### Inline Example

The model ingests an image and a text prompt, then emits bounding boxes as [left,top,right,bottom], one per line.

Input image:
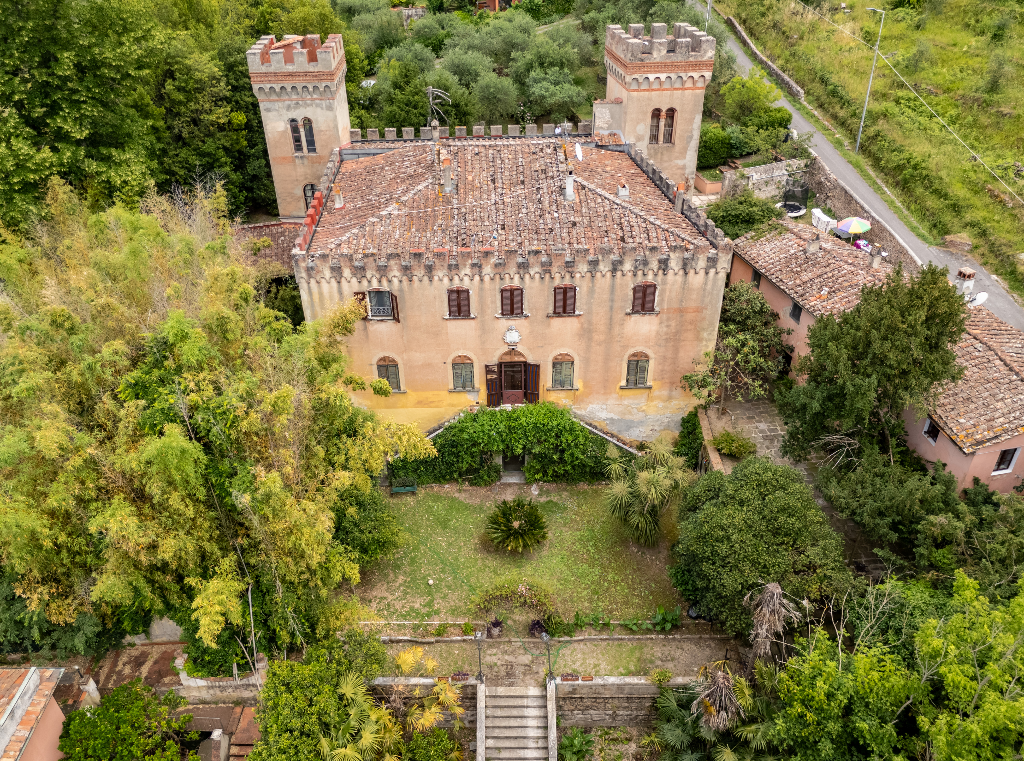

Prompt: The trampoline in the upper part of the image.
[774,182,812,222]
